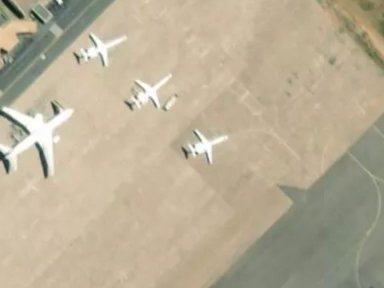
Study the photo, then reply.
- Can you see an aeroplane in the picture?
Yes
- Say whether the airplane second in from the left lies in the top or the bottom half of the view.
top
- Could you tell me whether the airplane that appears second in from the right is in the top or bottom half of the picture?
top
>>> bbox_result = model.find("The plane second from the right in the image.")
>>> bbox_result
[130,75,171,110]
